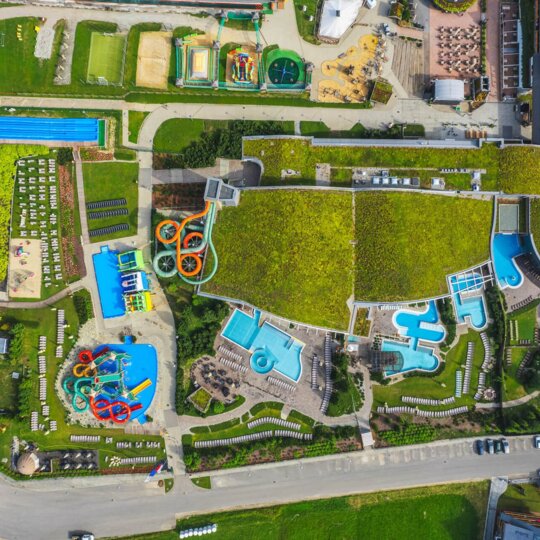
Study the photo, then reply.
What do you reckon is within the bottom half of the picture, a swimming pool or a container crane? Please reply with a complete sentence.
There is a swimming pool within the bottom half of the picture.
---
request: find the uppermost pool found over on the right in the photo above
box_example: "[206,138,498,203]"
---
[493,233,525,288]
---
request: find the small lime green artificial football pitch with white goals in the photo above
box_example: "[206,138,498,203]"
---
[85,28,127,86]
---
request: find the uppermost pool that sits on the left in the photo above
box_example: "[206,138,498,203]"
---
[92,245,132,319]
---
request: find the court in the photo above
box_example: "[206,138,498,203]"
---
[136,32,172,89]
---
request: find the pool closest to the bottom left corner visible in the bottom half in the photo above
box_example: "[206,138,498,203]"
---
[85,335,159,426]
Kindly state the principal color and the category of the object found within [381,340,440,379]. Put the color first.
blue swimming pool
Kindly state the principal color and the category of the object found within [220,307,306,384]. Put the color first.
blue swimming pool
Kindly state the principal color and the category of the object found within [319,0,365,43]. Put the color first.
white tent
